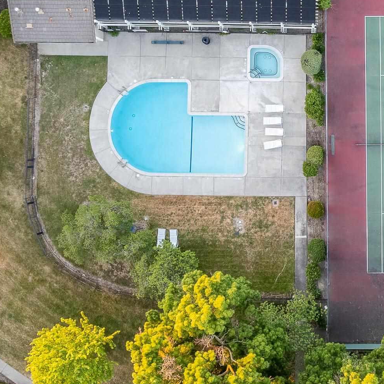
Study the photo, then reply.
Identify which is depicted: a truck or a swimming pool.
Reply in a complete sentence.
There is a swimming pool in the scene.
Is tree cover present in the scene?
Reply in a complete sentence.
Yes, there's tree cover in this view.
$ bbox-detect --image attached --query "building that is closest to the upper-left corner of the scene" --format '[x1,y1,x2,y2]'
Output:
[8,0,109,43]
